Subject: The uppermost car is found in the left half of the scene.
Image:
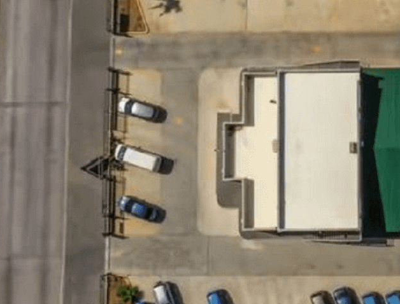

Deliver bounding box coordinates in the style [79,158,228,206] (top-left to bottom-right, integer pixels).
[118,98,164,123]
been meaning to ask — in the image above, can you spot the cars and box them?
[336,285,357,304]
[208,290,228,304]
[362,291,381,304]
[154,283,176,304]
[313,290,332,304]
[117,196,162,222]
[386,290,400,304]
[118,98,164,123]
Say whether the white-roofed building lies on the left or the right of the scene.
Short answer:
right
